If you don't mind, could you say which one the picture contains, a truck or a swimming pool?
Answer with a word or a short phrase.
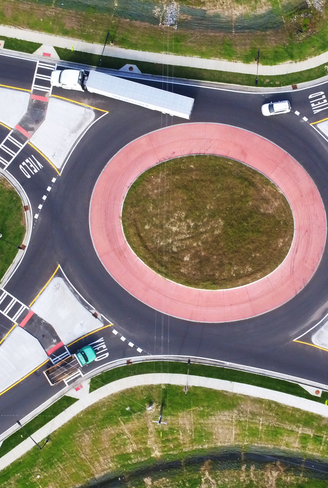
truck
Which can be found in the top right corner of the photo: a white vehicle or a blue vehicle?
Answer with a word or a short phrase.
white vehicle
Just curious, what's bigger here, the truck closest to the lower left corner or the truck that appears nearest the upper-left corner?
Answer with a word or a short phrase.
the truck that appears nearest the upper-left corner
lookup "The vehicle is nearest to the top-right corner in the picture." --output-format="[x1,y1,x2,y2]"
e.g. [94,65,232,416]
[260,101,292,117]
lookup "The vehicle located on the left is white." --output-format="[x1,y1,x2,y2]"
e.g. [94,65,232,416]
[57,61,194,118]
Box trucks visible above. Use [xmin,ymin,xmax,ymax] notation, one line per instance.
[38,344,101,385]
[57,61,194,118]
